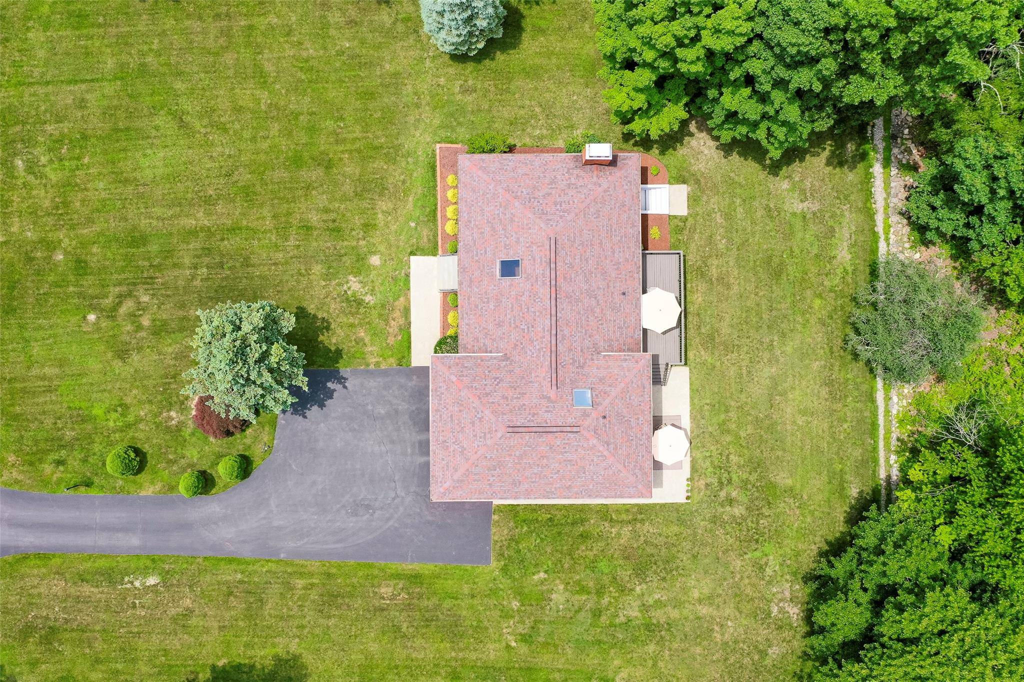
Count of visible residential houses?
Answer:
1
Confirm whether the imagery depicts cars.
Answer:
No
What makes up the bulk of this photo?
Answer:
grass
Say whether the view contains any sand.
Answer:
No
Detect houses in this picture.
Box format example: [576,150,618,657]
[429,143,653,502]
